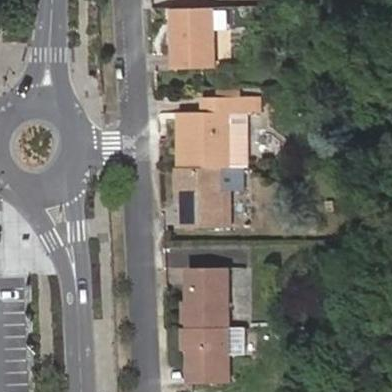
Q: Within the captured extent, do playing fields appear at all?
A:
No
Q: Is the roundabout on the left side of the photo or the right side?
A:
left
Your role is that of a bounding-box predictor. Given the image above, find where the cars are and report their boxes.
[114,58,125,80]
[0,290,20,300]
[16,76,33,98]
[166,370,183,382]
[78,281,88,302]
